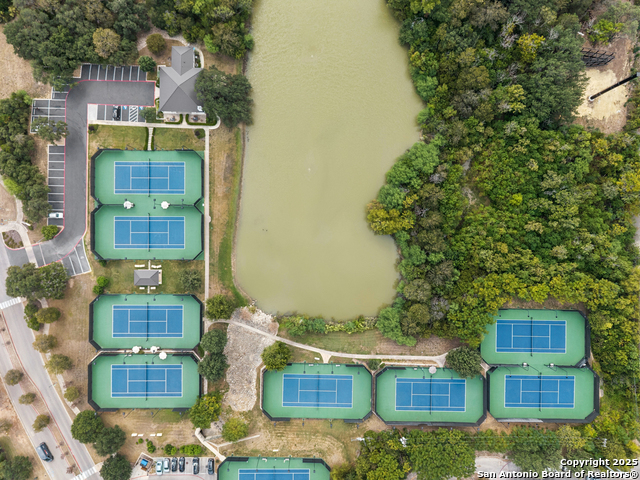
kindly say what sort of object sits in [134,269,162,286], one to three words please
building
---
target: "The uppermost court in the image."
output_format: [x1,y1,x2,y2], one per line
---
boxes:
[95,150,204,205]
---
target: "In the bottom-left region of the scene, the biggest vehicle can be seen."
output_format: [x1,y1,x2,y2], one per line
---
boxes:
[36,441,51,459]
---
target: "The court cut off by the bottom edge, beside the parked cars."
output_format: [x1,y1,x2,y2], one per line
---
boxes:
[219,459,330,480]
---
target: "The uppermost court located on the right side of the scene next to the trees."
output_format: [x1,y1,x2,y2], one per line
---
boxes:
[483,311,585,366]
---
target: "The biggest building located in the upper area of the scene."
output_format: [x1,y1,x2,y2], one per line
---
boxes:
[160,46,206,116]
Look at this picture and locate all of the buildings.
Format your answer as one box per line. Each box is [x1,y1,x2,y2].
[160,46,206,116]
[134,269,162,286]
